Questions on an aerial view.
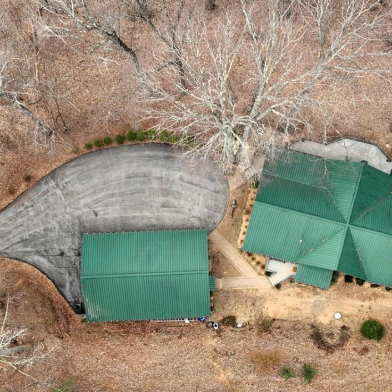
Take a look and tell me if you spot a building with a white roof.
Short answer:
No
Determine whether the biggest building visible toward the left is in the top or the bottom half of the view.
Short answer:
bottom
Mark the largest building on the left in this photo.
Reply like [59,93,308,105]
[79,227,216,324]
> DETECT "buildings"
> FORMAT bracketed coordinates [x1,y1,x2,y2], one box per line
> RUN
[79,227,216,324]
[242,137,392,291]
